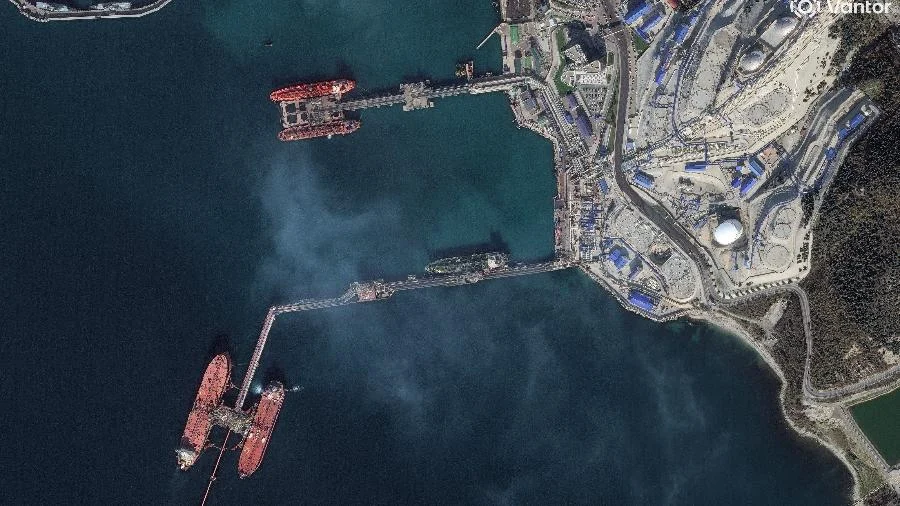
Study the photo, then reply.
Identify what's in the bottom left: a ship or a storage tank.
ship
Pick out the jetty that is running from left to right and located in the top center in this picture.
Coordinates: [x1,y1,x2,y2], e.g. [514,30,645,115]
[279,72,535,130]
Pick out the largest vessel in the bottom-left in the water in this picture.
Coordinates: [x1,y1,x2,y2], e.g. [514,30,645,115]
[177,353,227,471]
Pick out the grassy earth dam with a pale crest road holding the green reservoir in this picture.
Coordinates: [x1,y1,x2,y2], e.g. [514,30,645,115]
[837,406,893,474]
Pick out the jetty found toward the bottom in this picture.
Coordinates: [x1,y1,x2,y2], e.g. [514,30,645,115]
[203,260,580,506]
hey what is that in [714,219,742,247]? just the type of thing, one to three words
storage tank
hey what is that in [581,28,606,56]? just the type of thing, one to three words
building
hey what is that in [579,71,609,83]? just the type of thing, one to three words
building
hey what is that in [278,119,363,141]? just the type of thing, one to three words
ship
